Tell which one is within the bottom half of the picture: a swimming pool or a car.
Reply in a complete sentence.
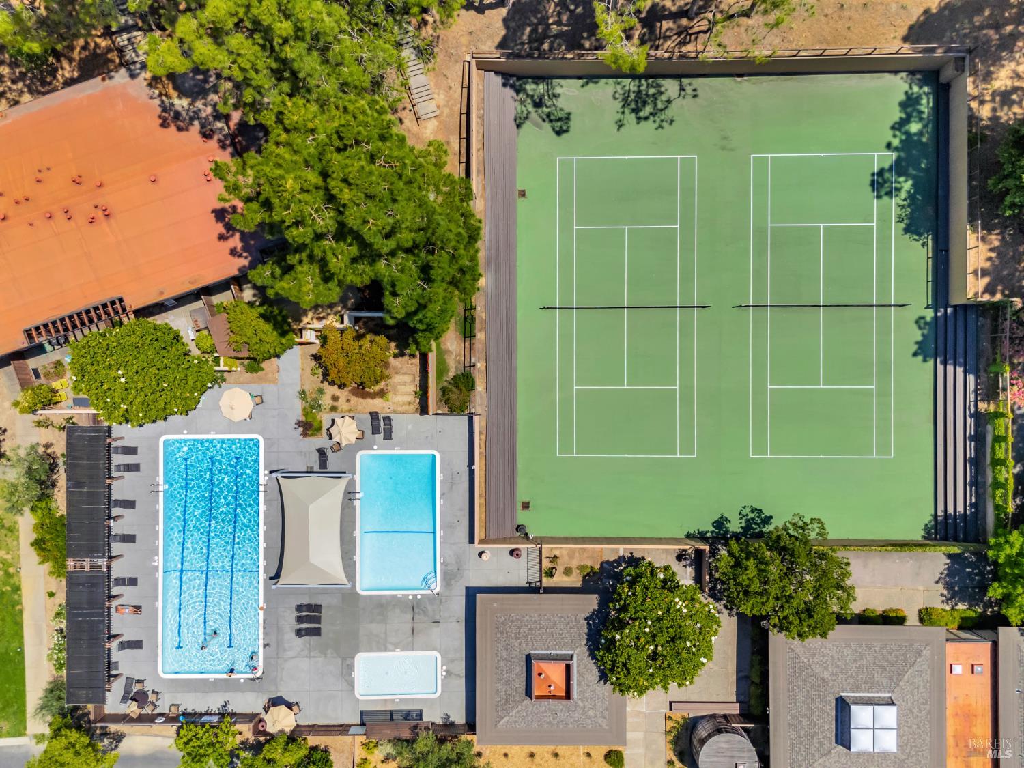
Visible within the bottom half of the picture is a swimming pool.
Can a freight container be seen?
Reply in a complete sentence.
No, no freight container is visible in the view.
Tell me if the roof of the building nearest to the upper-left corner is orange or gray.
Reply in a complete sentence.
The roof of the building nearest to the upper-left corner is orange.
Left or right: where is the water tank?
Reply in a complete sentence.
You can find the water tank on the right side of the picture.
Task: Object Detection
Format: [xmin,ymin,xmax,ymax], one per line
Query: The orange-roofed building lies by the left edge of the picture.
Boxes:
[0,69,270,357]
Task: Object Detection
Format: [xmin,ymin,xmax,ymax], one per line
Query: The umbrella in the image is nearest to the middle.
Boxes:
[329,416,360,447]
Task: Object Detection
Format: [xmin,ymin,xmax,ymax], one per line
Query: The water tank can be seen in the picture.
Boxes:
[689,714,762,768]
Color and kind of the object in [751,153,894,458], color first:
green tennis court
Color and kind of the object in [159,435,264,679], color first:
blue swimming pool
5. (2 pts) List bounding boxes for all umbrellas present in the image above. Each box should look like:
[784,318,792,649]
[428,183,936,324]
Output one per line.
[266,700,298,734]
[221,388,254,420]
[329,416,360,447]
